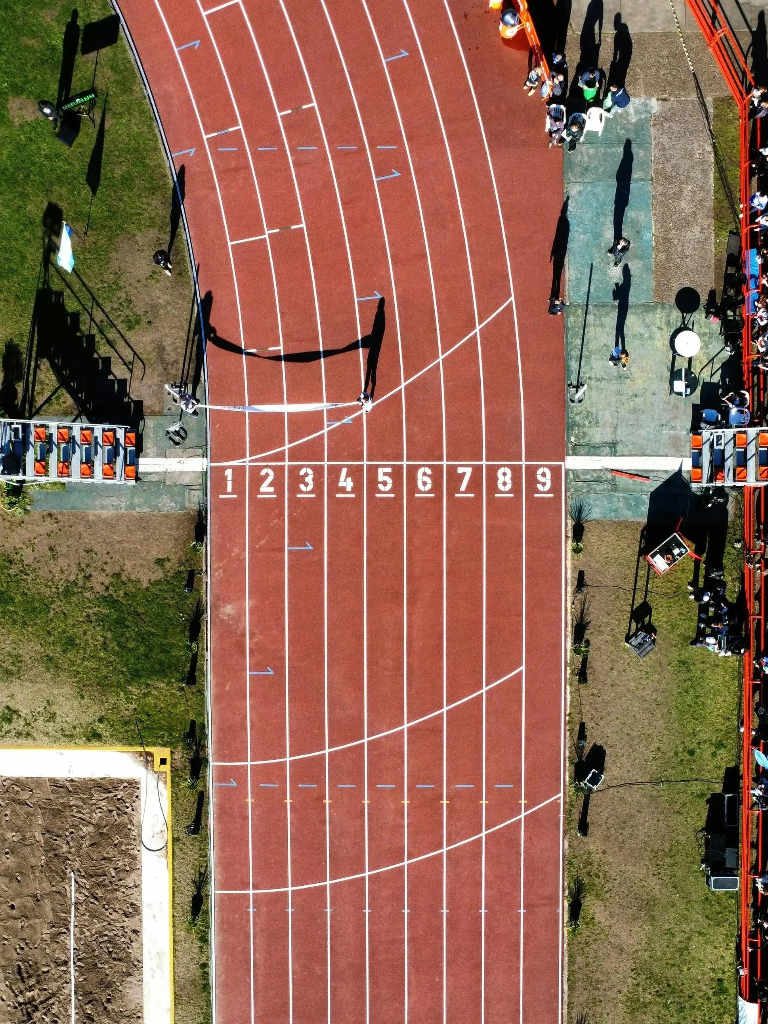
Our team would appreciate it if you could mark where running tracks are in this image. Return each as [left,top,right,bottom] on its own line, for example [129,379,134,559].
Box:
[117,0,566,1024]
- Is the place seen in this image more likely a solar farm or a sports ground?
sports ground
